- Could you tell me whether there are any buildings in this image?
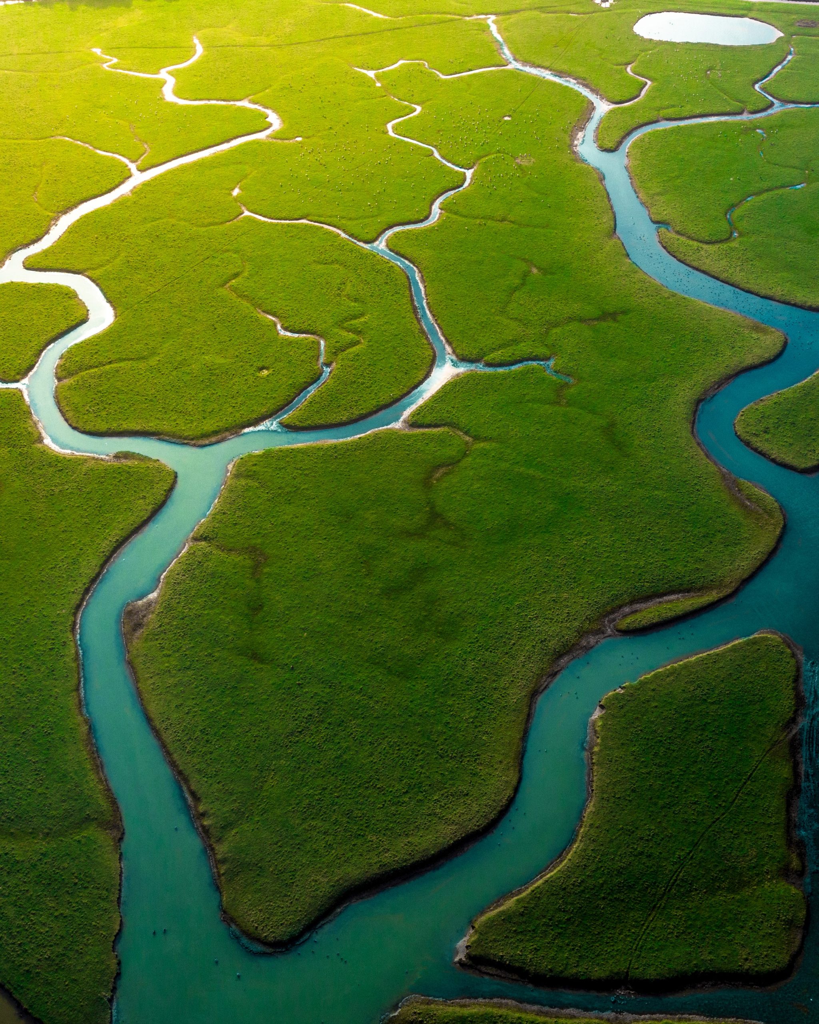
No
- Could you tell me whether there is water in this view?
Yes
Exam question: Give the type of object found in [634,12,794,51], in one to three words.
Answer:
pond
